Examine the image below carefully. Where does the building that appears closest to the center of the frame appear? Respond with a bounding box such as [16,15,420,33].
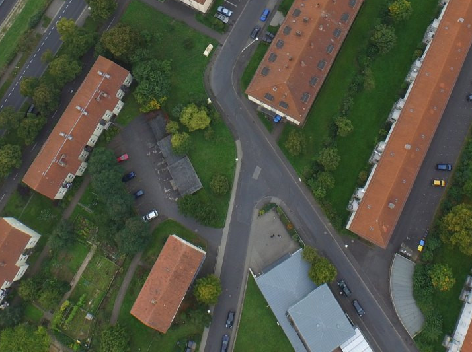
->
[168,156,203,196]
